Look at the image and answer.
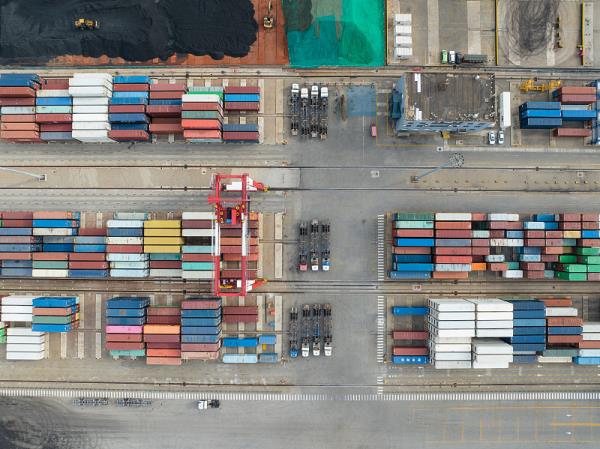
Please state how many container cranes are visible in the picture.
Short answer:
1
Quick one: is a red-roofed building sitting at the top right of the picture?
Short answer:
No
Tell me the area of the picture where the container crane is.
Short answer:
center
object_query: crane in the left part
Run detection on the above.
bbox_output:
[206,176,271,294]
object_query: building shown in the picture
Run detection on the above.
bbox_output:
[386,73,497,138]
